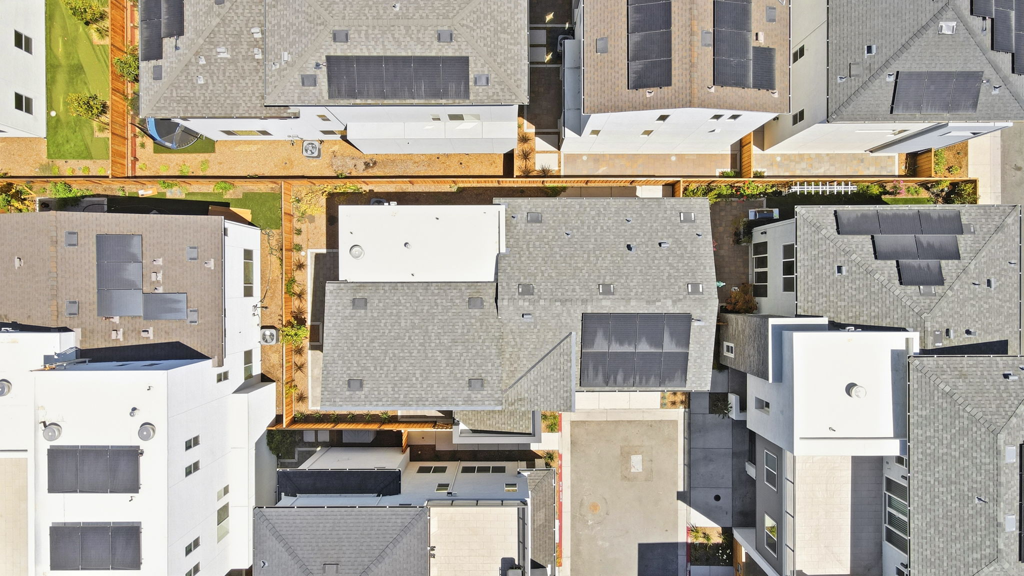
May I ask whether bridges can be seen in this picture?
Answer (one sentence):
No, there isn't any bridge down there.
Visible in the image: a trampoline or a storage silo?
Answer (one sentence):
I can see a trampoline in this picture.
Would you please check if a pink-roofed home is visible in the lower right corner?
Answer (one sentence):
No, there is no pink-roofed home in the lower right corner.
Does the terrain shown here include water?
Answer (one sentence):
No, there's no water in this view.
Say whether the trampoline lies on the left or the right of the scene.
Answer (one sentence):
You can find the trampoline on the left side of the picture.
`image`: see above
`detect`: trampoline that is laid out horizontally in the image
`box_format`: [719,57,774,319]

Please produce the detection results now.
[133,121,209,156]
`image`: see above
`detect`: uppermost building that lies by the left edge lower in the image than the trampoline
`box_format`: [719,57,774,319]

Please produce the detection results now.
[0,210,267,367]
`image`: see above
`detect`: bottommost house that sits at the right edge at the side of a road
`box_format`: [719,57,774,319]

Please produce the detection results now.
[721,313,1024,576]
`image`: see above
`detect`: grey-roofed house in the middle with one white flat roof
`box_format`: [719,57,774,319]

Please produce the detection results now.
[320,196,718,443]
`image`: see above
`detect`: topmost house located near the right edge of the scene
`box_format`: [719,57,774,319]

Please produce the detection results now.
[760,0,1024,155]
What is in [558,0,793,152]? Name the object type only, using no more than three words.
house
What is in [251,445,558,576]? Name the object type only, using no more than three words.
house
